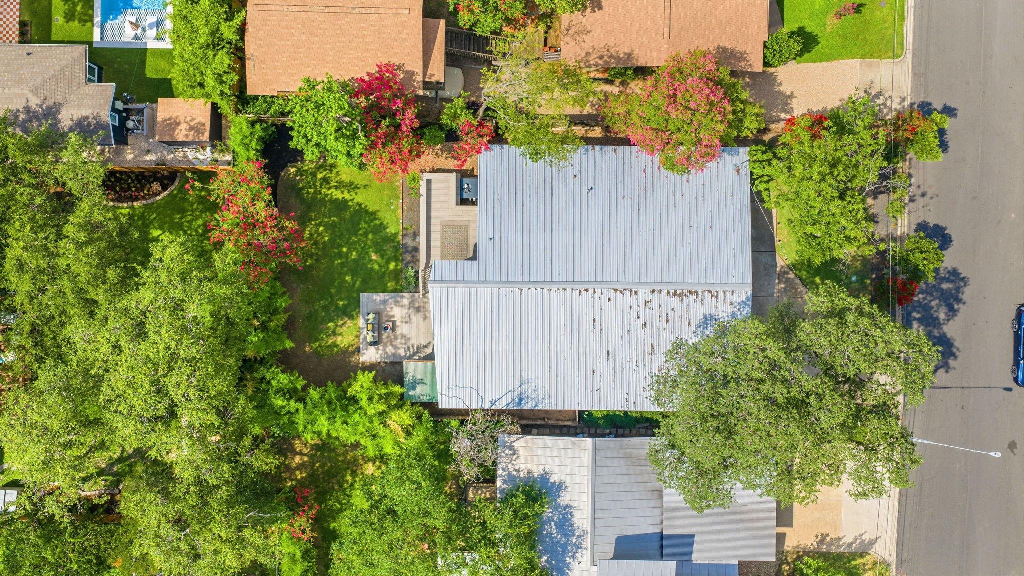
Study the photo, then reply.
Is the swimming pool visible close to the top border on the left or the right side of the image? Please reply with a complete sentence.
The swimming pool visible close to the top border appears in the left half of the scene.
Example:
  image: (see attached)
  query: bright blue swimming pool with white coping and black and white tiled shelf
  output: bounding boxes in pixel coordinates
[94,0,173,49]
